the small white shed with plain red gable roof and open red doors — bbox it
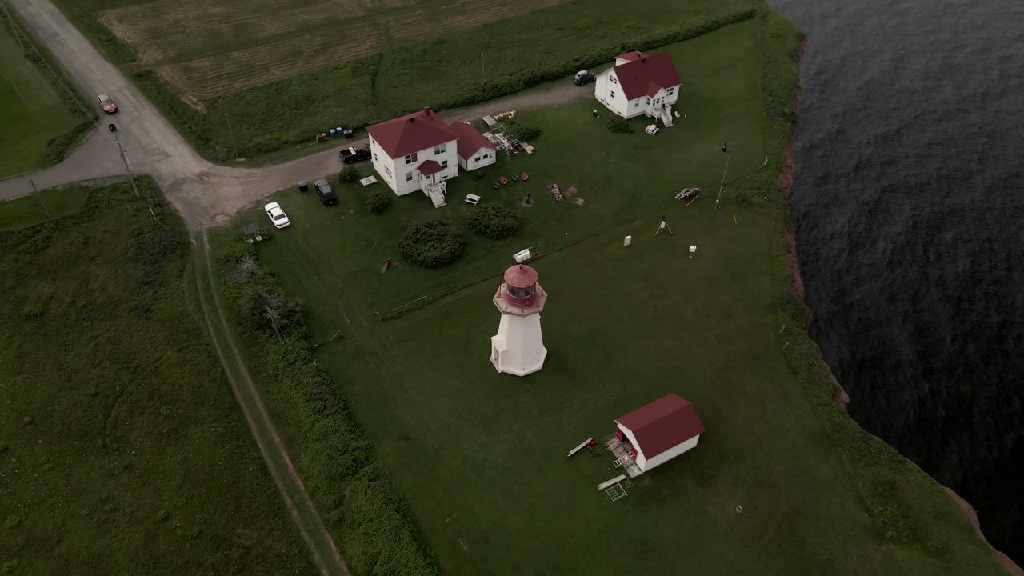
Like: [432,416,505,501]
[599,398,703,479]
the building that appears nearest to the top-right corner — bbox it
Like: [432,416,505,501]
[592,50,682,126]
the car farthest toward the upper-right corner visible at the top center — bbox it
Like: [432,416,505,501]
[573,71,596,86]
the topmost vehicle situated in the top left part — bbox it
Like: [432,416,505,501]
[96,91,116,110]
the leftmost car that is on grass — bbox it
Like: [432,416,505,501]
[264,202,290,226]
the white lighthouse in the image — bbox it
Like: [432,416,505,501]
[486,262,548,377]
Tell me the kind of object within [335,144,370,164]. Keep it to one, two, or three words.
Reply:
vehicle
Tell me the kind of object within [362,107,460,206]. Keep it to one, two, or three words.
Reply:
house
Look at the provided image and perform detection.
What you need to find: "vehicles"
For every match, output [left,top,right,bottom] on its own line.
[264,202,290,226]
[96,91,116,110]
[573,71,596,86]
[312,181,336,202]
[335,144,370,164]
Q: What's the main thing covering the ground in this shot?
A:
grass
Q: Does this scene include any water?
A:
Yes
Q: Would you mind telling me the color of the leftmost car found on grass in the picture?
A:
white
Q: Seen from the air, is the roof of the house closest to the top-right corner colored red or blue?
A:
red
